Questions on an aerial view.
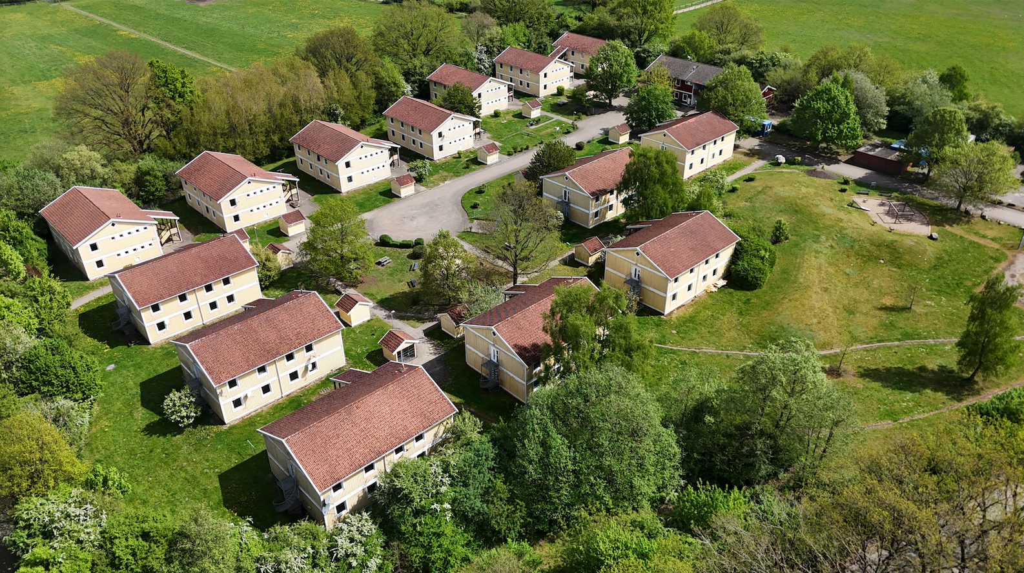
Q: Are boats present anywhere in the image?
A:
No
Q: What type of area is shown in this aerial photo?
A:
residential area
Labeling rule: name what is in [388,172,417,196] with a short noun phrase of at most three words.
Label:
shed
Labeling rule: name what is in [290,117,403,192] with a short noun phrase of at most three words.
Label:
house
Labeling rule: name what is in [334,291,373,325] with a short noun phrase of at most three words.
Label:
shed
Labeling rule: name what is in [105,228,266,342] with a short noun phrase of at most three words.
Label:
house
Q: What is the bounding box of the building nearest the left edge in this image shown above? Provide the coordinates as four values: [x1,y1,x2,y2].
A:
[40,181,182,278]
